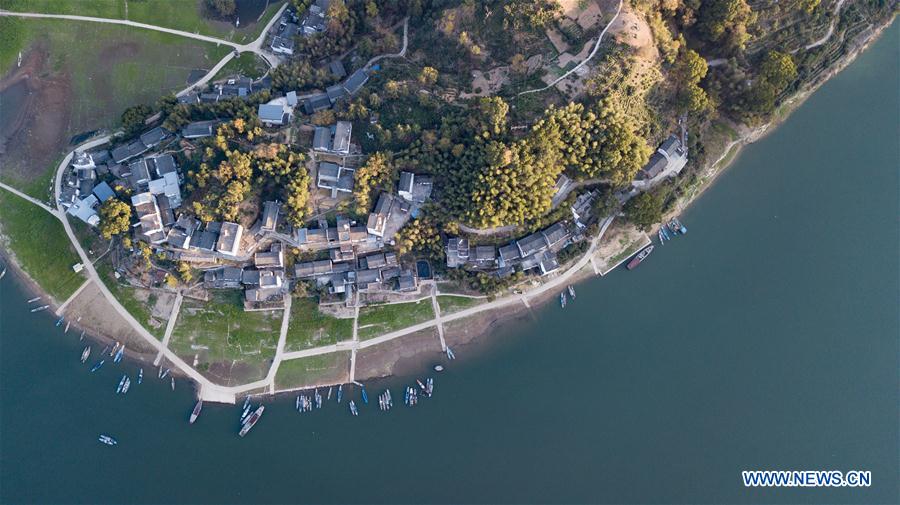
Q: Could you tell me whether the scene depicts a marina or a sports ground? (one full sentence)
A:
The picture captures a marina.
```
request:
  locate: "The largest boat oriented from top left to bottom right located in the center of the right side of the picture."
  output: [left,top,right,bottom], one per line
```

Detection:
[668,218,686,233]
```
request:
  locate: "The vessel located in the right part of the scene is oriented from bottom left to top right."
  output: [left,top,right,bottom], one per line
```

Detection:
[627,247,655,269]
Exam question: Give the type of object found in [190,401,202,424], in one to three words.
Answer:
vessel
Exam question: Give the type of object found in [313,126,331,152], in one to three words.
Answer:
house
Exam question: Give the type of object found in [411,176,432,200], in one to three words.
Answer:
house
